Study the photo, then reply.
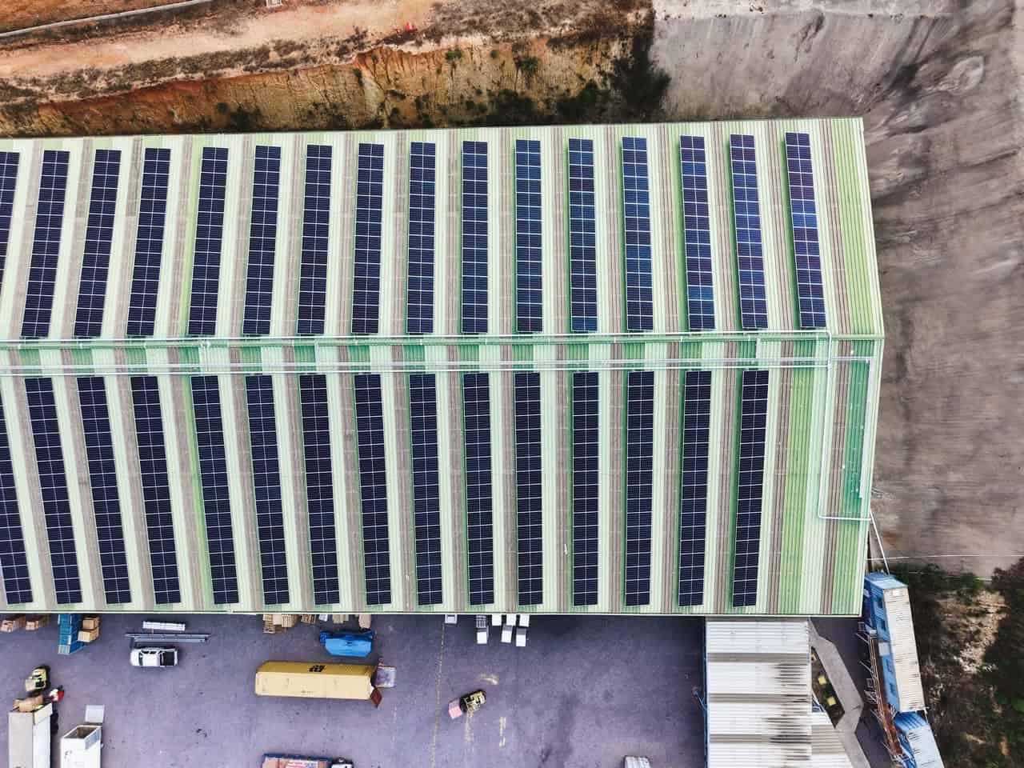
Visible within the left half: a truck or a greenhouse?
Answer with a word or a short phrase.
truck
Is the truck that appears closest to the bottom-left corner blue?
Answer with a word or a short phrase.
No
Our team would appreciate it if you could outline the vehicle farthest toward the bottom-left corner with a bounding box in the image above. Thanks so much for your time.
[8,700,61,768]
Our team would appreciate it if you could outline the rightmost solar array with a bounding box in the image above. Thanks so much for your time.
[784,133,827,330]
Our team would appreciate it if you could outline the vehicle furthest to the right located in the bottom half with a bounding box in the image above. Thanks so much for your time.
[459,691,486,719]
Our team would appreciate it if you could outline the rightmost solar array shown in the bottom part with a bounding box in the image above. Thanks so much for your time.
[731,369,770,606]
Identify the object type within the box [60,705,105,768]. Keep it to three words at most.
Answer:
truck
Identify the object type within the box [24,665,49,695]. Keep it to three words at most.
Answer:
work vehicle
